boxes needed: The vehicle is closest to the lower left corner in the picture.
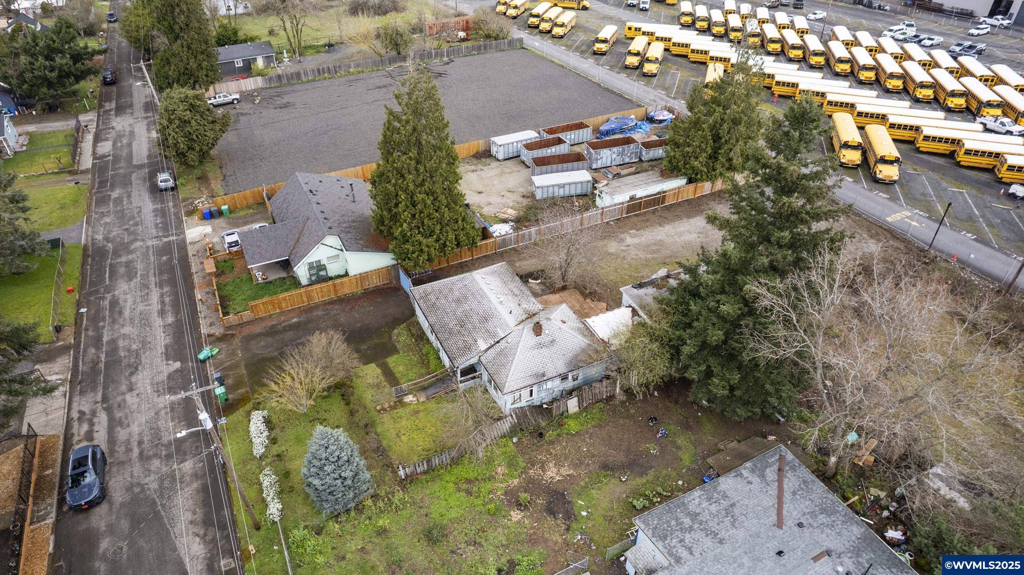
[53,437,104,515]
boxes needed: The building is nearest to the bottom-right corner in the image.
[619,445,922,575]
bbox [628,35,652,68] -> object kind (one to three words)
bus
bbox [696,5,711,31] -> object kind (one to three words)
vehicle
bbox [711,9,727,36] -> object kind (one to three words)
vehicle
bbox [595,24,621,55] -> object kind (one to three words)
bus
